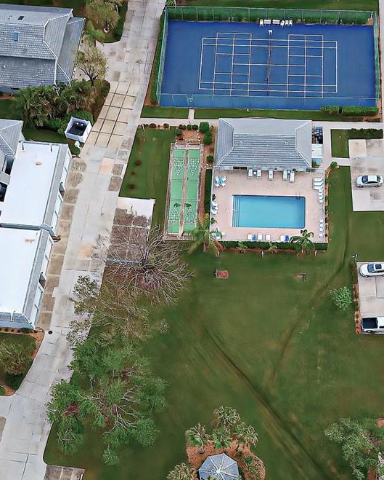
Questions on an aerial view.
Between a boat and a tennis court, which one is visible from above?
tennis court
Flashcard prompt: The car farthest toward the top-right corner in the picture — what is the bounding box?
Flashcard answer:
[356,174,384,188]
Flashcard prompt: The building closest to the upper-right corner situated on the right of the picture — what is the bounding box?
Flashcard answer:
[215,118,312,174]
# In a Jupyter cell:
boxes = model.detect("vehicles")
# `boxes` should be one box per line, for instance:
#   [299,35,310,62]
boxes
[364,317,384,332]
[356,174,384,188]
[359,260,384,276]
